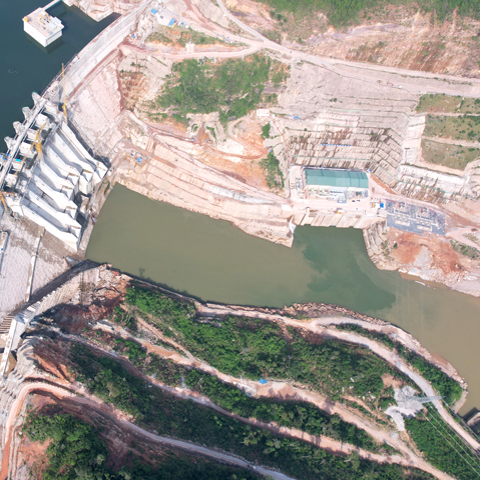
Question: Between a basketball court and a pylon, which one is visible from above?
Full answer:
Looking from above, you can make out a pylon.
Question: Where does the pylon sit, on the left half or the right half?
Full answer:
The pylon appears in the right half of the scene.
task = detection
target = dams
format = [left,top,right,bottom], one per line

[0,0,157,376]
